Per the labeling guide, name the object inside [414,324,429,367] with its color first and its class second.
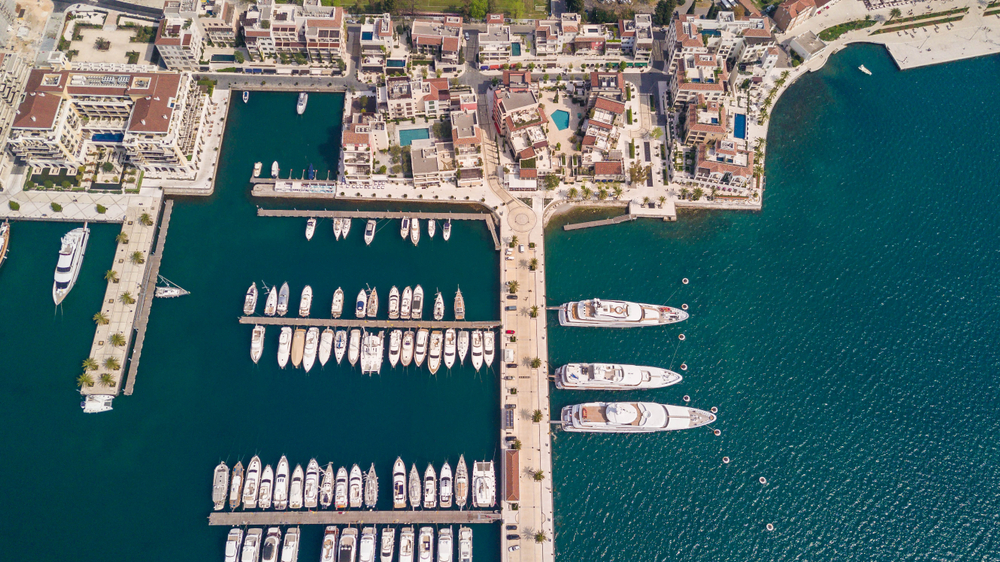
white boat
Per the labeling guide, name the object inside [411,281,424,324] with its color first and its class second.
white boat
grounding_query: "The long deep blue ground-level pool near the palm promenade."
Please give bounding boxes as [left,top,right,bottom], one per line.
[731,112,748,140]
